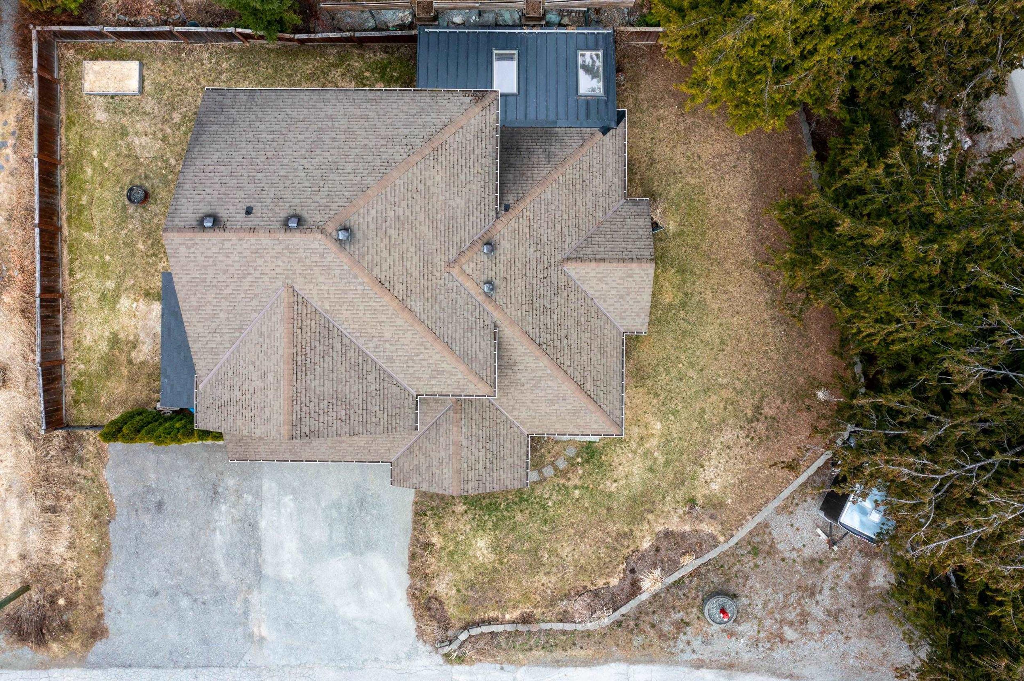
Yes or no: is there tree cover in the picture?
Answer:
Yes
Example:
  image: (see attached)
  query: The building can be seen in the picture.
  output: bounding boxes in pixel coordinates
[161,26,656,496]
